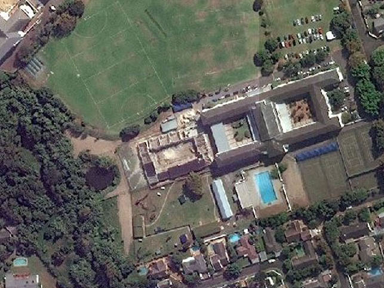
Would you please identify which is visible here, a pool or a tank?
pool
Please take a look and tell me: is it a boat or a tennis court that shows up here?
tennis court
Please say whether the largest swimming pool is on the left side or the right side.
right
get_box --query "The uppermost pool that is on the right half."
[236,163,285,209]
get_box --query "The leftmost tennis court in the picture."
[296,150,346,202]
